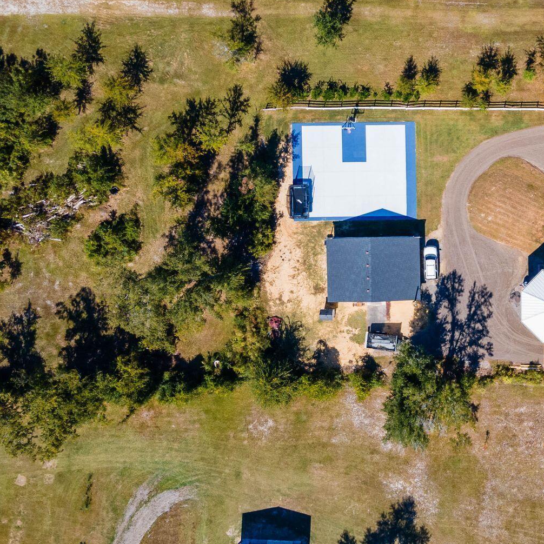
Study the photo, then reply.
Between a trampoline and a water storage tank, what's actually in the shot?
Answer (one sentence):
There is a trampoline in the scene.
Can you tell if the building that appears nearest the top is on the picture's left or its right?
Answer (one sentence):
The building that appears nearest the top appears in the right half of the scene.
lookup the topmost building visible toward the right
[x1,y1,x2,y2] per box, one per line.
[327,237,422,303]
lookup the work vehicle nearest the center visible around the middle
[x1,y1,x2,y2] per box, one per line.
[263,313,280,339]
